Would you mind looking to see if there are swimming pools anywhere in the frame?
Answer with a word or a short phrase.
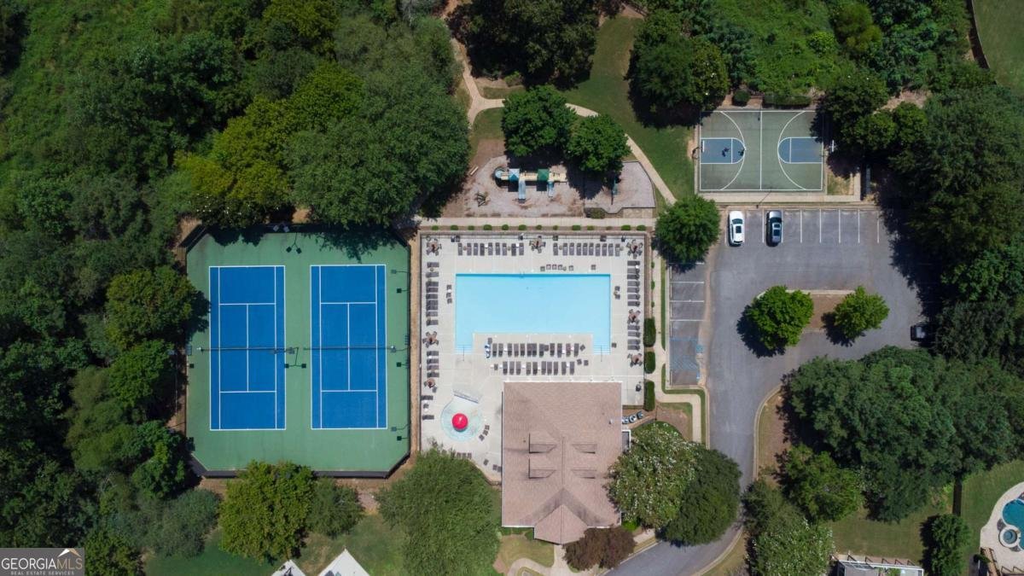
Yes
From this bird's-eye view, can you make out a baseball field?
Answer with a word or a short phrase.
No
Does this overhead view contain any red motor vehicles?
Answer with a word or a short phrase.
No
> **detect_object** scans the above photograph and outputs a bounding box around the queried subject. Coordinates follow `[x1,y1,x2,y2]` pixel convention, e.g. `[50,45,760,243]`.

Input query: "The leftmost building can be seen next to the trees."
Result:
[502,376,632,545]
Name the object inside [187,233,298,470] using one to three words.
tennis court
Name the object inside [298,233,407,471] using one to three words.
tennis court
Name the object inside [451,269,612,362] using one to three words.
swimming pool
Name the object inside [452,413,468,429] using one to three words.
fountain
